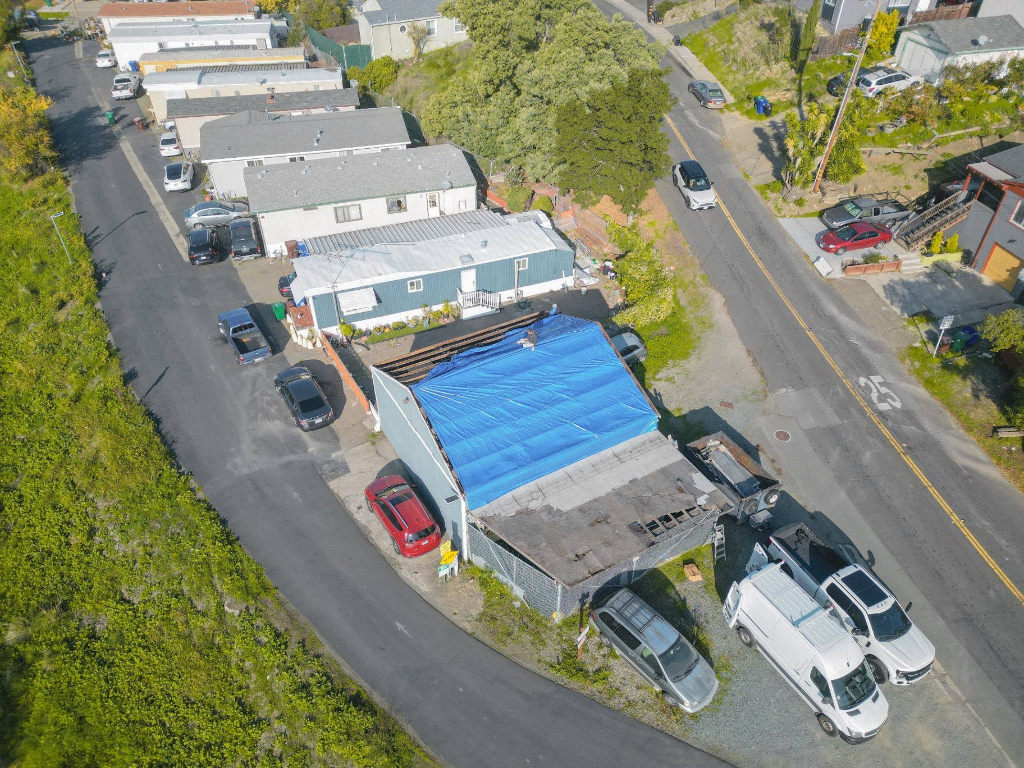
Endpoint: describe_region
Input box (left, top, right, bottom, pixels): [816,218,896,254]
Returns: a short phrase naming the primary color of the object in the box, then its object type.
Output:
red car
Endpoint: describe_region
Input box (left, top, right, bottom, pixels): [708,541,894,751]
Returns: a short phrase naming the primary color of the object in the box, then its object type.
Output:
white van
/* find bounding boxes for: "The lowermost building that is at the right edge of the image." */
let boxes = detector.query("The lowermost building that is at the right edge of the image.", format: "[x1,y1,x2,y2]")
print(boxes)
[895,135,1024,302]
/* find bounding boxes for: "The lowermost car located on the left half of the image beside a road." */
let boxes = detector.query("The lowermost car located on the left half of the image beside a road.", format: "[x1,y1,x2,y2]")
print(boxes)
[362,471,444,566]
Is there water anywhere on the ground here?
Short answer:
No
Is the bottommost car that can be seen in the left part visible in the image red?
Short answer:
Yes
